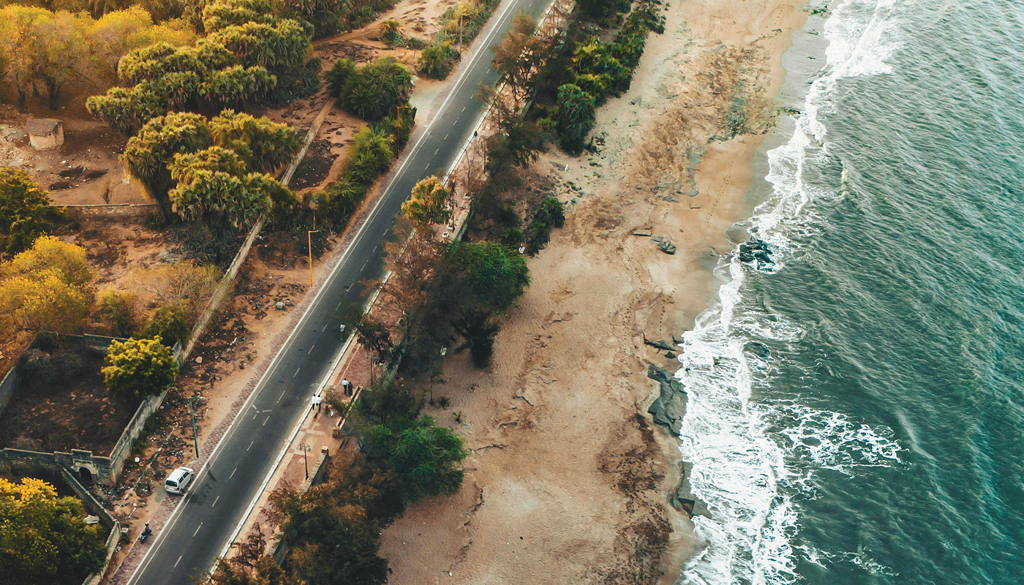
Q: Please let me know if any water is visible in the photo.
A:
Yes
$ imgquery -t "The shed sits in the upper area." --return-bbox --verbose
[30,121,69,151]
